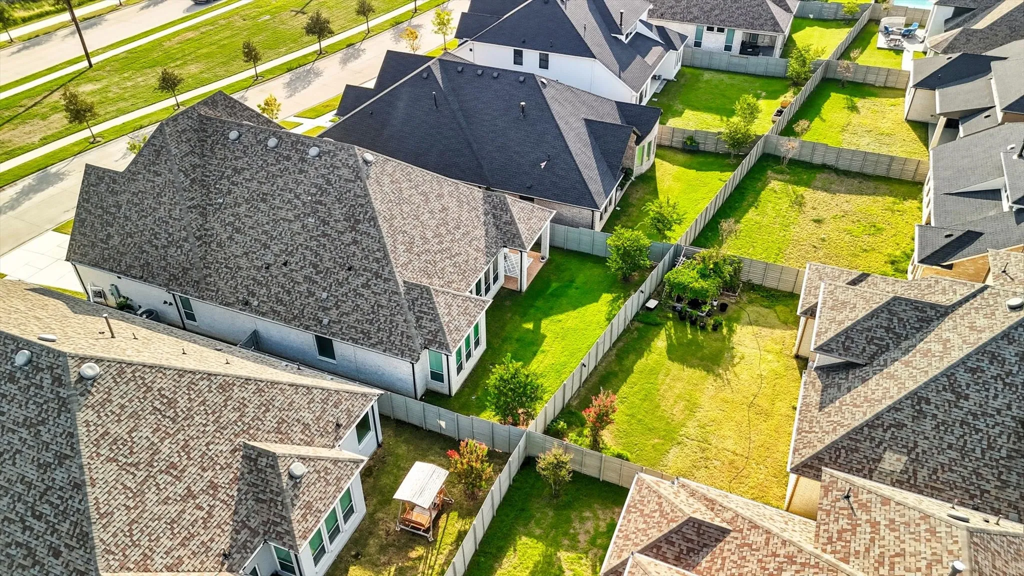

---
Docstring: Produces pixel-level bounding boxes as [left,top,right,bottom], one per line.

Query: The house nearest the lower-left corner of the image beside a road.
[0,279,391,576]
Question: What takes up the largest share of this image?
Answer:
buildings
